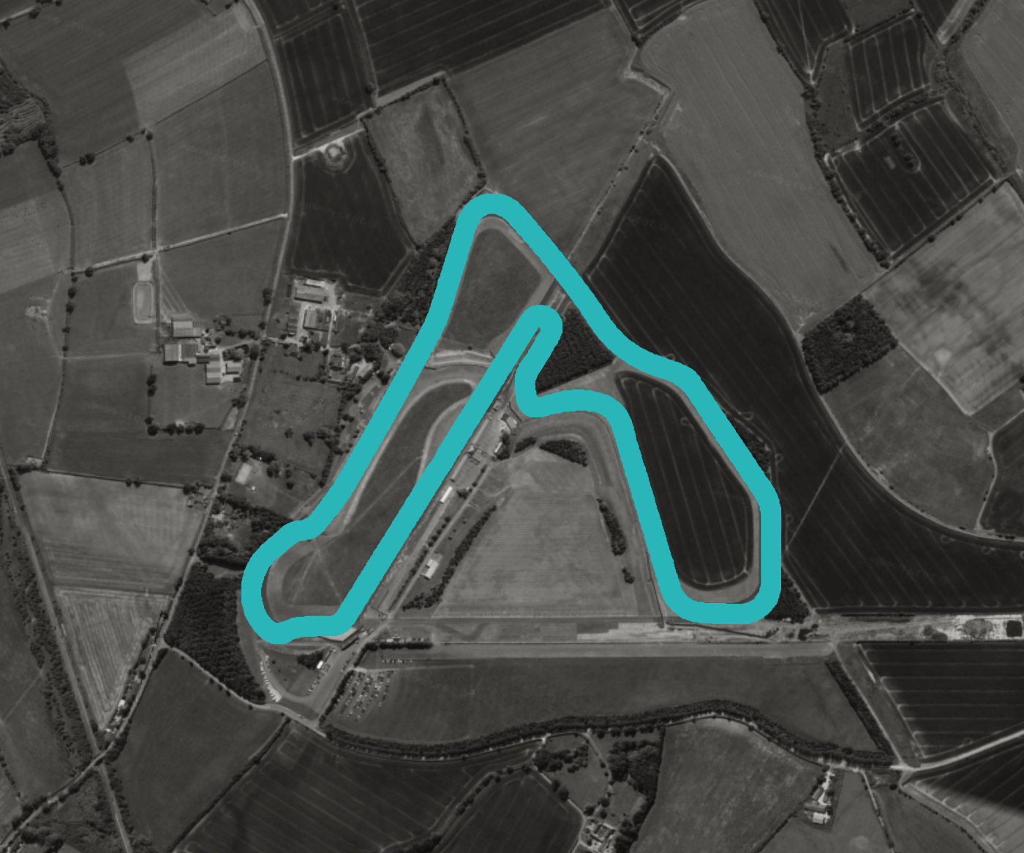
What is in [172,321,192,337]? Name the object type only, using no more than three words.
barn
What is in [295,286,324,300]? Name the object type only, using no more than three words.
barn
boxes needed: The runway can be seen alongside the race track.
[376,644,834,660]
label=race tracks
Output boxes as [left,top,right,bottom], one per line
[241,193,781,644]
